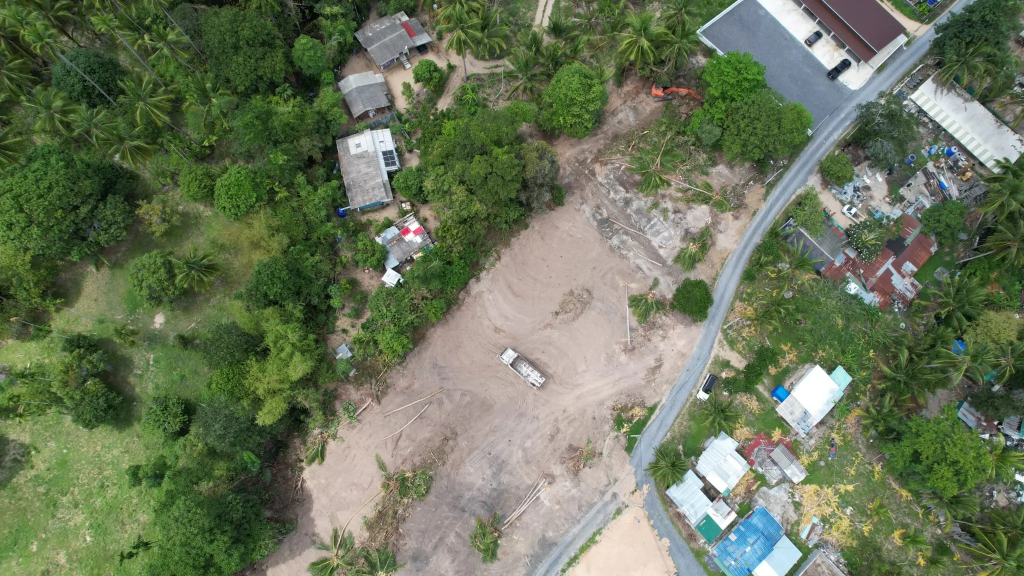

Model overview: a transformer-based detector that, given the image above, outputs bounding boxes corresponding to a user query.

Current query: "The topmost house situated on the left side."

[355,11,431,77]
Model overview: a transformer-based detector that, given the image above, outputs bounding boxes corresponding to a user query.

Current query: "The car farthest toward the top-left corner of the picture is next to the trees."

[415,43,432,60]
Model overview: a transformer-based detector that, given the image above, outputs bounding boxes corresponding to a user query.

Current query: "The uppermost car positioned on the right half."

[804,26,828,47]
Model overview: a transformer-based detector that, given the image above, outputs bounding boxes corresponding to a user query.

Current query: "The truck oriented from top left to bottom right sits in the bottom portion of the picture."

[494,344,547,393]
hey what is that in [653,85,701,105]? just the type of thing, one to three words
work vehicle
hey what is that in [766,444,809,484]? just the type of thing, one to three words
building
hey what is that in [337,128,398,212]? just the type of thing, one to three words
house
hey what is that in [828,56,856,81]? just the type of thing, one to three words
truck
